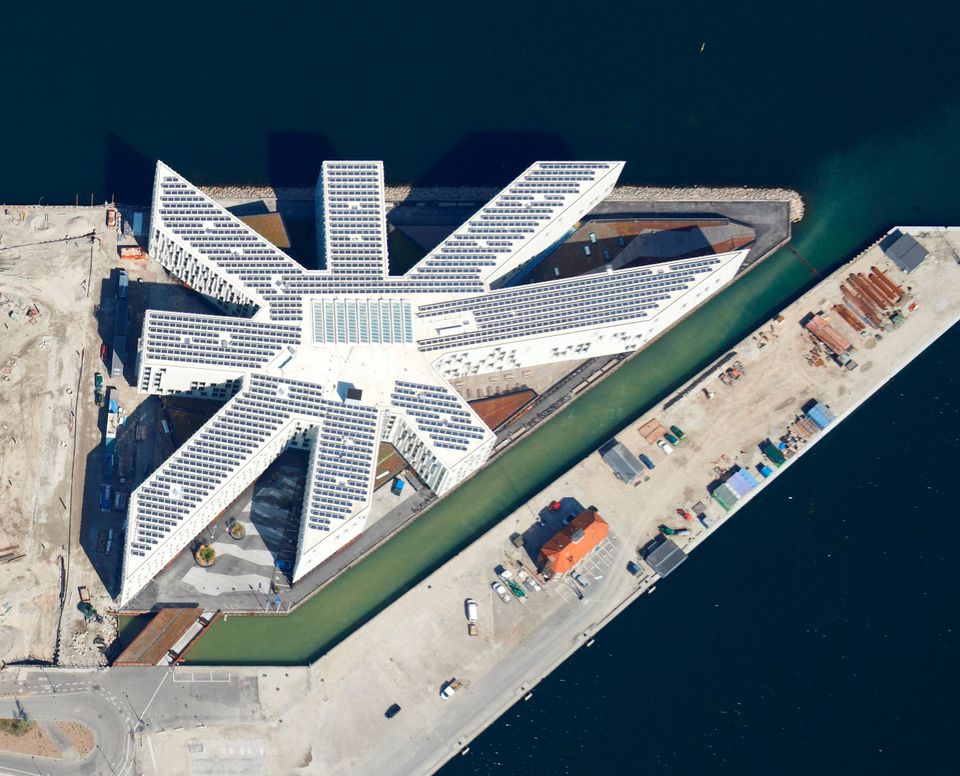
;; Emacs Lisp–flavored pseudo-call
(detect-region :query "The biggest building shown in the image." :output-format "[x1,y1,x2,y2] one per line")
[119,160,755,605]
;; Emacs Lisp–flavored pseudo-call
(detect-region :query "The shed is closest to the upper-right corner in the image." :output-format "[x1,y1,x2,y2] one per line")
[883,231,928,278]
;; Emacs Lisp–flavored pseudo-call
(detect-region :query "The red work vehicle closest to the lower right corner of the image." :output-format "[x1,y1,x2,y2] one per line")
[680,508,697,525]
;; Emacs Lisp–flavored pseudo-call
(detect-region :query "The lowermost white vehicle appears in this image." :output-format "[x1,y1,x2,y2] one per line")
[441,679,461,696]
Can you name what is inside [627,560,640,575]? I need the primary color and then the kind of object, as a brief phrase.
blue vehicle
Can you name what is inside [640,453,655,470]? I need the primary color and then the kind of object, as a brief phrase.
blue car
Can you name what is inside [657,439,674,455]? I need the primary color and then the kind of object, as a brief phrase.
white vehicle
